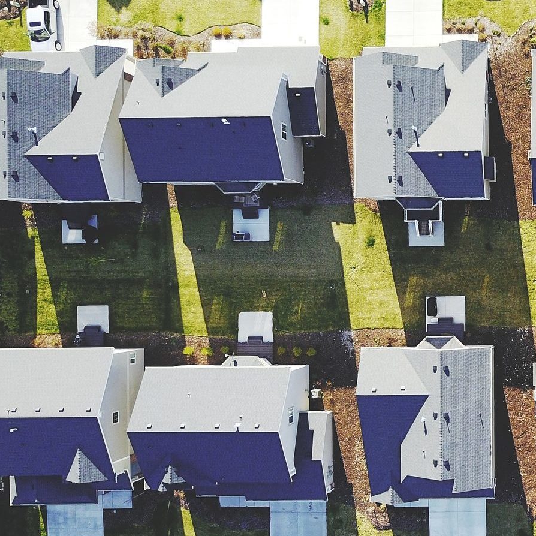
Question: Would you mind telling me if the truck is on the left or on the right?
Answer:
left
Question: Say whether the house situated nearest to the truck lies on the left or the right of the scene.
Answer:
left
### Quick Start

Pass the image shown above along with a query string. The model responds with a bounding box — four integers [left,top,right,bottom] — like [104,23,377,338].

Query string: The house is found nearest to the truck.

[0,43,142,206]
